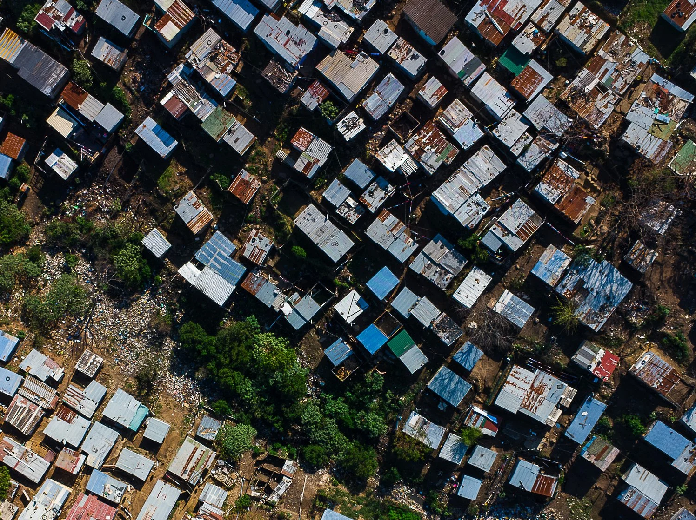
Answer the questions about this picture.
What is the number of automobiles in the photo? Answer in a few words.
zero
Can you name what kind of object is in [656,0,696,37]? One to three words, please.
shed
